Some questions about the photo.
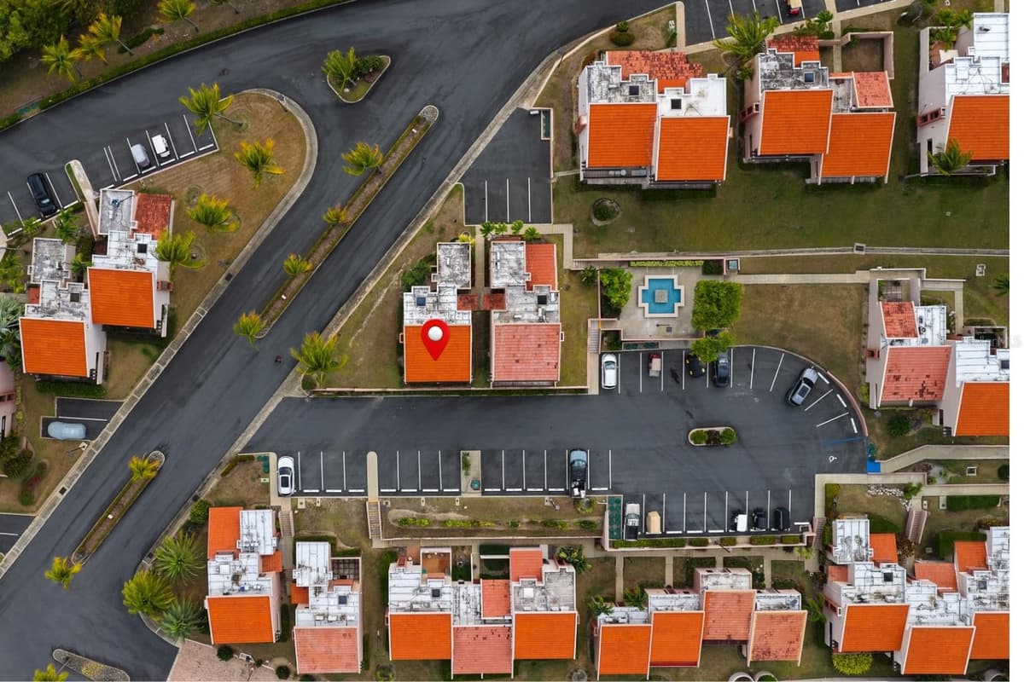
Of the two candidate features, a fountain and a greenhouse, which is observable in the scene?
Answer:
fountain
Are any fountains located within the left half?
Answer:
No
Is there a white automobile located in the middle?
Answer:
Yes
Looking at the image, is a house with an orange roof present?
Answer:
Yes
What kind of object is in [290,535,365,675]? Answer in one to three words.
house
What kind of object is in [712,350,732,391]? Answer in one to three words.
car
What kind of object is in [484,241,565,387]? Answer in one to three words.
house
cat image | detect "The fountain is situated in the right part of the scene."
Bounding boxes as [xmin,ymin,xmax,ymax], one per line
[637,275,684,317]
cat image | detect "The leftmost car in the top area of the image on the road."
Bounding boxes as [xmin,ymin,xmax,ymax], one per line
[27,175,57,217]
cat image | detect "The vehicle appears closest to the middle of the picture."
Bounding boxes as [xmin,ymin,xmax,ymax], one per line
[600,354,618,390]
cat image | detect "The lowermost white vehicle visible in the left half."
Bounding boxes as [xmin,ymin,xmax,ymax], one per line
[277,456,295,495]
